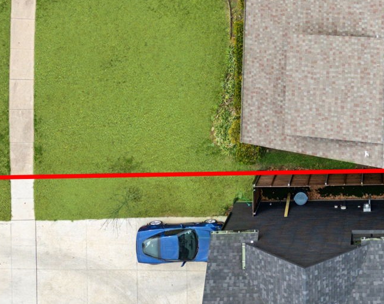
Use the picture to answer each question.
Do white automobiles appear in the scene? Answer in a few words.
No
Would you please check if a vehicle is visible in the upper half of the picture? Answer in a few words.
No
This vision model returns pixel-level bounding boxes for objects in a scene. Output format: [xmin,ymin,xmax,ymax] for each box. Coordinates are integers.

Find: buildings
[207,197,384,304]
[239,0,384,170]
